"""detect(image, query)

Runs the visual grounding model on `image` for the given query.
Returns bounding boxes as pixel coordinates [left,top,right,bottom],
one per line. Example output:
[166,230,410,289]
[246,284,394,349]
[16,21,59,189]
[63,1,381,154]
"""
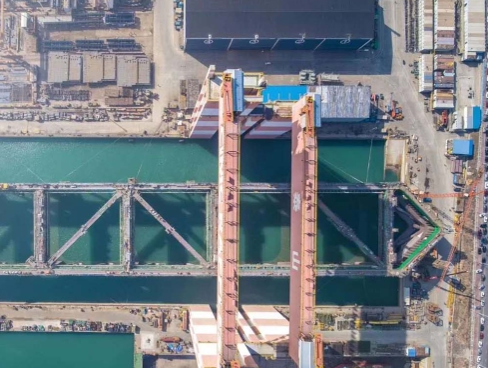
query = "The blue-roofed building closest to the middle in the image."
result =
[259,85,310,100]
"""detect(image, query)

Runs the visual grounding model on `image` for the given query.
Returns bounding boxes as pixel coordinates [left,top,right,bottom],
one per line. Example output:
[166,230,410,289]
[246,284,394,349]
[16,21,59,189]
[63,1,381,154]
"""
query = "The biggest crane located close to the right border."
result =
[416,167,486,281]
